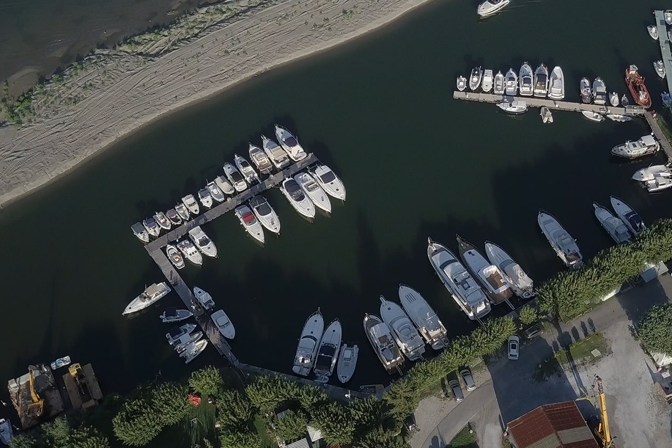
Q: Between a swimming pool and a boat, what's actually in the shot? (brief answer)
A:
boat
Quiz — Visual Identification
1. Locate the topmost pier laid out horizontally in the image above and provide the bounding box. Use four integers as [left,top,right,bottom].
[454,91,626,117]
